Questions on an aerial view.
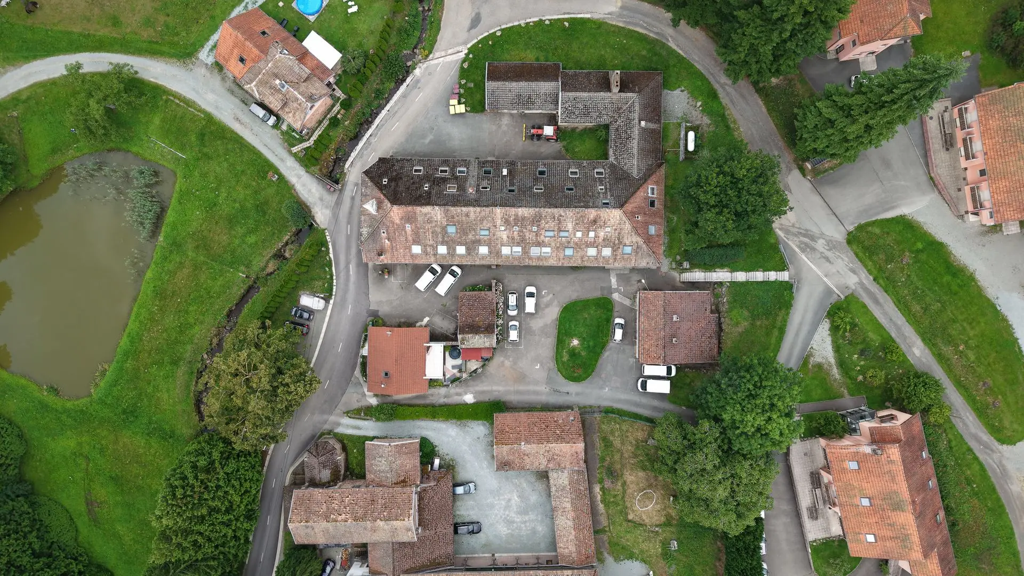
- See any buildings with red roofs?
Yes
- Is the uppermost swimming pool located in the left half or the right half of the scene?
left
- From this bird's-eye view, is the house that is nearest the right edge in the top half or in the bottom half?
top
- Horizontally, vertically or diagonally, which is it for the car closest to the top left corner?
diagonally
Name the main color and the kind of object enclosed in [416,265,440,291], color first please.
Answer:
white vehicle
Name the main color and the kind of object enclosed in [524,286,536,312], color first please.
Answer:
white vehicle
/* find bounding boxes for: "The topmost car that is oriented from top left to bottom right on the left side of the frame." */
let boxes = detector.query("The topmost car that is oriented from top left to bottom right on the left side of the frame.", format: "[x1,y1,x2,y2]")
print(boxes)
[250,103,276,125]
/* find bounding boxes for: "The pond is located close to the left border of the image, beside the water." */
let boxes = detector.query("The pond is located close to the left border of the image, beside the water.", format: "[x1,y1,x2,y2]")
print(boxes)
[0,149,179,398]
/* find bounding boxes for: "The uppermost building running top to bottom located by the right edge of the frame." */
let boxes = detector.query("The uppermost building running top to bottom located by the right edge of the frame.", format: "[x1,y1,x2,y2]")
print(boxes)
[953,75,1024,225]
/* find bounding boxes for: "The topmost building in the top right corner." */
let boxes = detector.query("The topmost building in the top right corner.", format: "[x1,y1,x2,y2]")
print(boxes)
[824,0,932,56]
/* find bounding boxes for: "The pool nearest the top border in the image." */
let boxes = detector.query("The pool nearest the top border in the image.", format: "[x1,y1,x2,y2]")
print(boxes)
[292,0,329,22]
